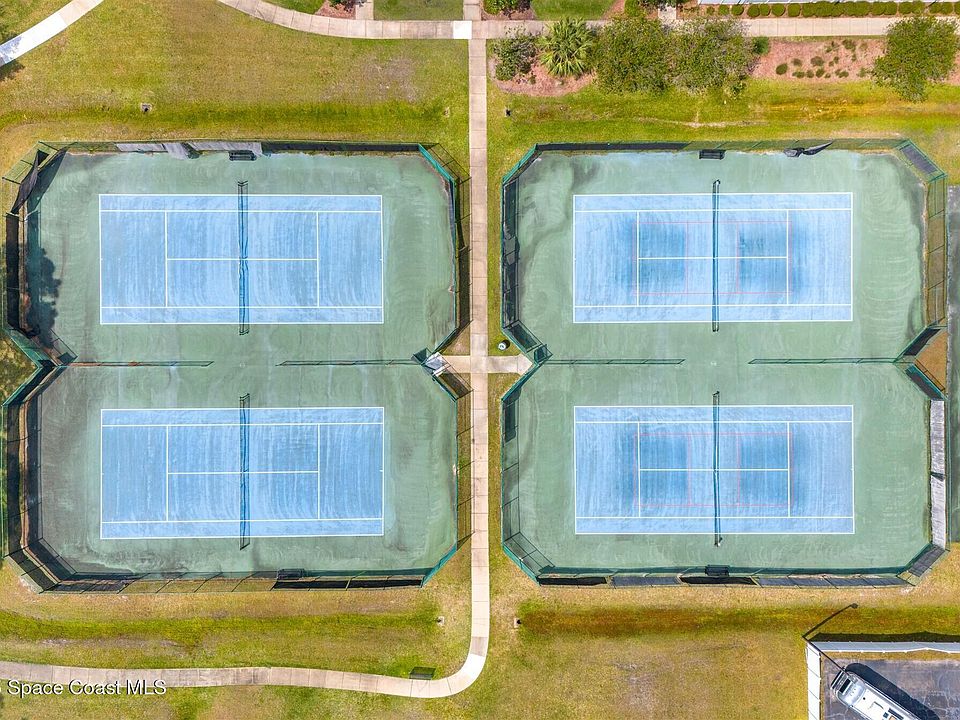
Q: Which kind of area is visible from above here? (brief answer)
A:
sports ground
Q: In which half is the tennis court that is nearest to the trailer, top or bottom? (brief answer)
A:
bottom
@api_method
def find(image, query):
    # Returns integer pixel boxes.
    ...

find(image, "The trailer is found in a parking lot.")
[830,668,922,720]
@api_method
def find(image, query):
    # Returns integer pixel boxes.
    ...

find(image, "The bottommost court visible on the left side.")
[27,364,455,578]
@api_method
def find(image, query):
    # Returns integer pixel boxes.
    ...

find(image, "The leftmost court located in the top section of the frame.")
[27,156,453,364]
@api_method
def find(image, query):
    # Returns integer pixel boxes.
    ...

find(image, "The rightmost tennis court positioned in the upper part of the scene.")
[504,154,924,364]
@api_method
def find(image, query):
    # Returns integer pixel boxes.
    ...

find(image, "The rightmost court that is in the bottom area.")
[505,364,927,575]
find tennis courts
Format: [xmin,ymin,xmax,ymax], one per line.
[505,364,927,575]
[504,154,924,364]
[27,156,453,364]
[27,364,455,578]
